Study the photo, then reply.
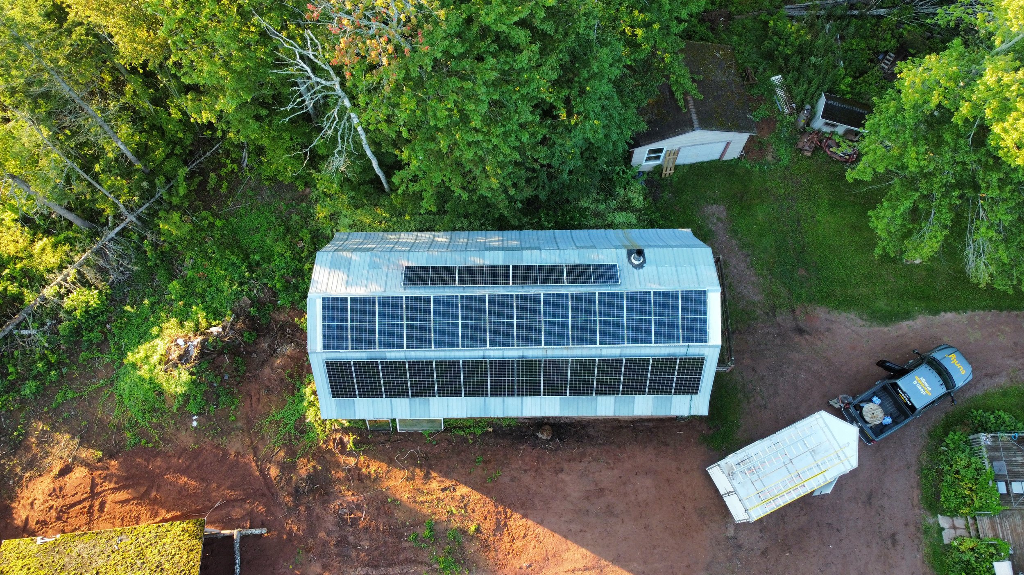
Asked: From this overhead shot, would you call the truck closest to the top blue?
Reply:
Yes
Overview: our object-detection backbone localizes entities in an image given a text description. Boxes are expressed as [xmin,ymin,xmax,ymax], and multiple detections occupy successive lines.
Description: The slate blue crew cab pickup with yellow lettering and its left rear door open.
[836,344,974,447]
